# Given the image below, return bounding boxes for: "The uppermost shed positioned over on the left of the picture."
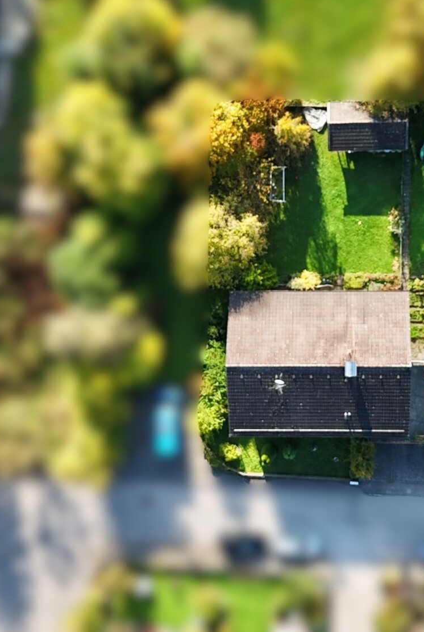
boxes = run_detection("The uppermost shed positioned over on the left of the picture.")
[26,188,58,214]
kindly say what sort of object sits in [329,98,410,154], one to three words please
shed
